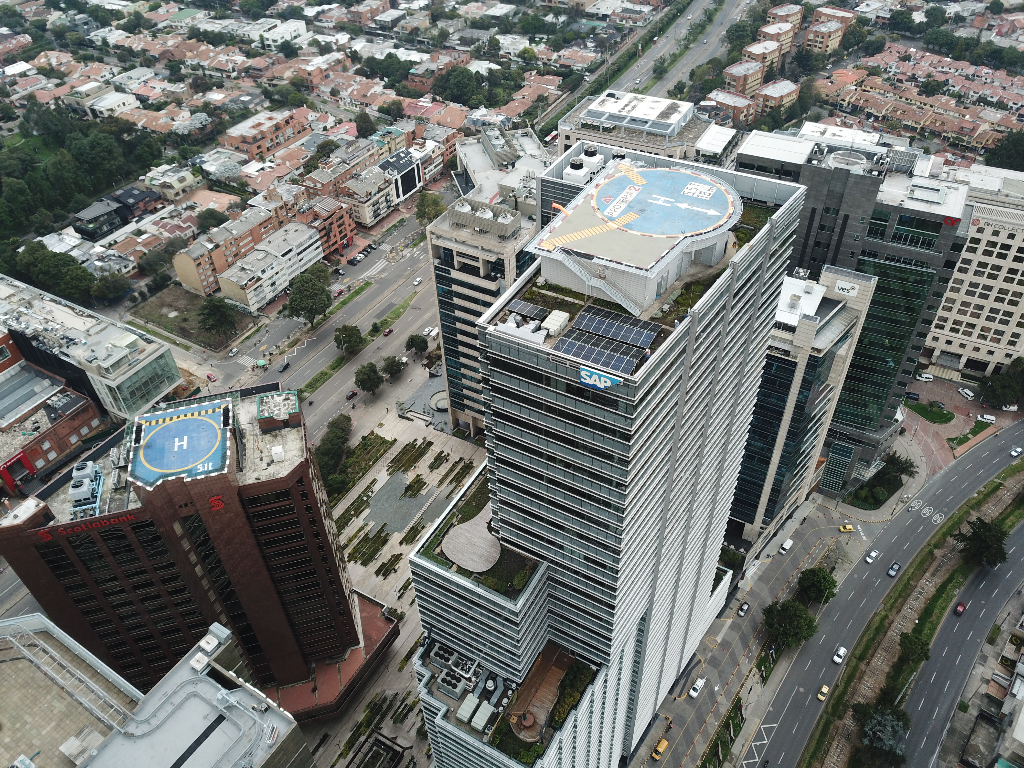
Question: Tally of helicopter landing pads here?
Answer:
2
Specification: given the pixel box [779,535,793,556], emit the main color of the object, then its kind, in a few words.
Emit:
white vehicle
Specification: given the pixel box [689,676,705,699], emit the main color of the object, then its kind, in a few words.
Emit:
white car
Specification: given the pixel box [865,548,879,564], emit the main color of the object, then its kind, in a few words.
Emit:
white car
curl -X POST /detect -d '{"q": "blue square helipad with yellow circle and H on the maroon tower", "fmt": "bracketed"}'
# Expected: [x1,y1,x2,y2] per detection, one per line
[120,391,242,493]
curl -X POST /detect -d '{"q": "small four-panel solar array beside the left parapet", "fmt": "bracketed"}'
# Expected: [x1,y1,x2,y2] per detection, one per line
[501,300,549,319]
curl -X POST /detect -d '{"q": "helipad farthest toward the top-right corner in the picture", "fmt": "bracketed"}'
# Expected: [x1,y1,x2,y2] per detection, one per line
[526,164,749,310]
